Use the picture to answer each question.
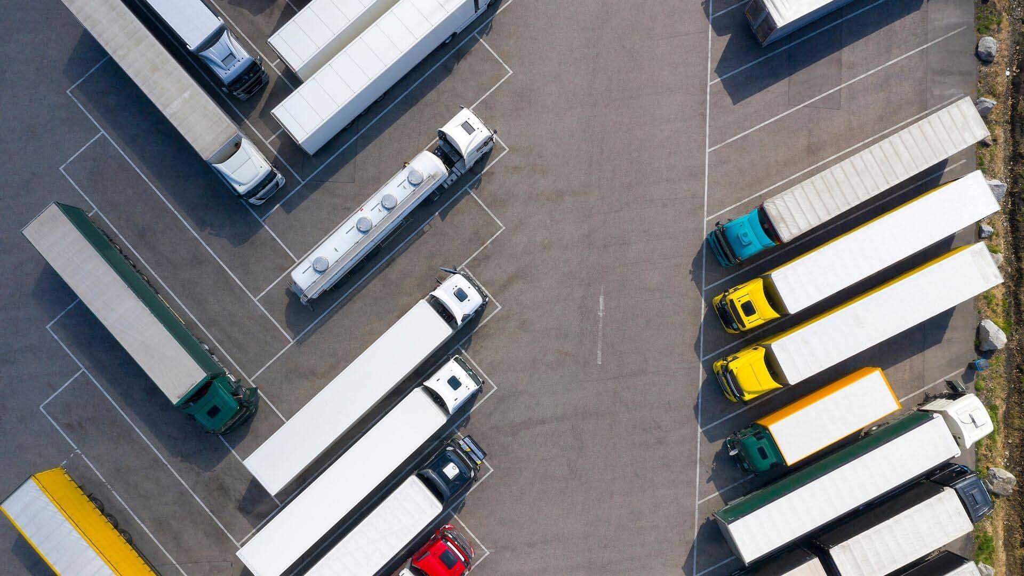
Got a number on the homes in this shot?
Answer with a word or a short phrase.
none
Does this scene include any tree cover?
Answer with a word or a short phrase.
No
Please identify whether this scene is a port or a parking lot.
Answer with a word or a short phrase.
parking lot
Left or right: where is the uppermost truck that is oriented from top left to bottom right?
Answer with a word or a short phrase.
left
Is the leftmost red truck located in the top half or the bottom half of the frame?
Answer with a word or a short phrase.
bottom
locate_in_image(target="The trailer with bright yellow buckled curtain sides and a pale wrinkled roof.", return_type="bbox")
[0,467,163,576]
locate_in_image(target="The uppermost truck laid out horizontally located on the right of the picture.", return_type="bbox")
[742,0,855,47]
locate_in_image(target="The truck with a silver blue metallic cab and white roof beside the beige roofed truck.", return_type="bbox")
[146,0,273,99]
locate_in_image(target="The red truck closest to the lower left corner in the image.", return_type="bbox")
[392,523,476,576]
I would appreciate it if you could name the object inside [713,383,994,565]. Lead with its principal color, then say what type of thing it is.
white truck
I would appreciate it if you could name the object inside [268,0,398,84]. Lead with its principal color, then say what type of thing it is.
white truck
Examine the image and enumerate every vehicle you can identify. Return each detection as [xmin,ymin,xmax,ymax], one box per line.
[271,0,484,157]
[881,548,981,576]
[392,523,476,576]
[707,97,990,270]
[302,433,488,576]
[21,201,261,441]
[238,352,485,576]
[713,242,1004,406]
[246,264,491,496]
[62,0,288,203]
[713,170,1000,338]
[725,368,901,480]
[713,383,994,565]
[284,107,497,316]
[268,0,398,84]
[0,467,163,576]
[742,0,855,47]
[146,0,273,99]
